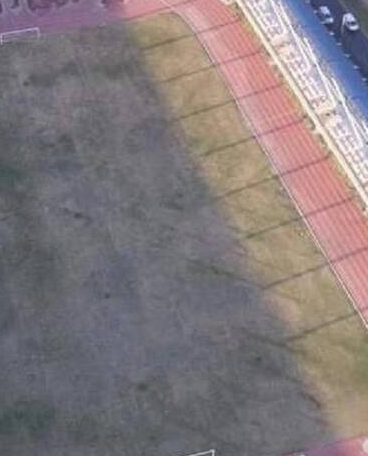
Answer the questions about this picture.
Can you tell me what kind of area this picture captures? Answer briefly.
sports ground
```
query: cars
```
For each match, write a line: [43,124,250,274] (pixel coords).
[320,7,334,22]
[342,13,358,28]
